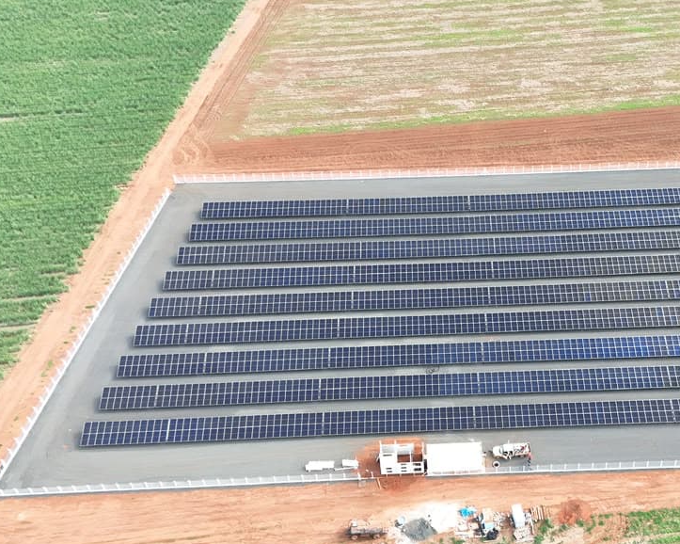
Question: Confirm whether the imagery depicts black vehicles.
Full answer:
No, no black vehicle can be seen from above.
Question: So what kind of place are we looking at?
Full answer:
The picture captures a solar farm.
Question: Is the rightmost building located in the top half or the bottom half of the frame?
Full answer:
It is in the bottom half that the rightmost building appears.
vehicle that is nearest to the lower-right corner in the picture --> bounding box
[511,509,528,537]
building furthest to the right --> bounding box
[426,440,484,473]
